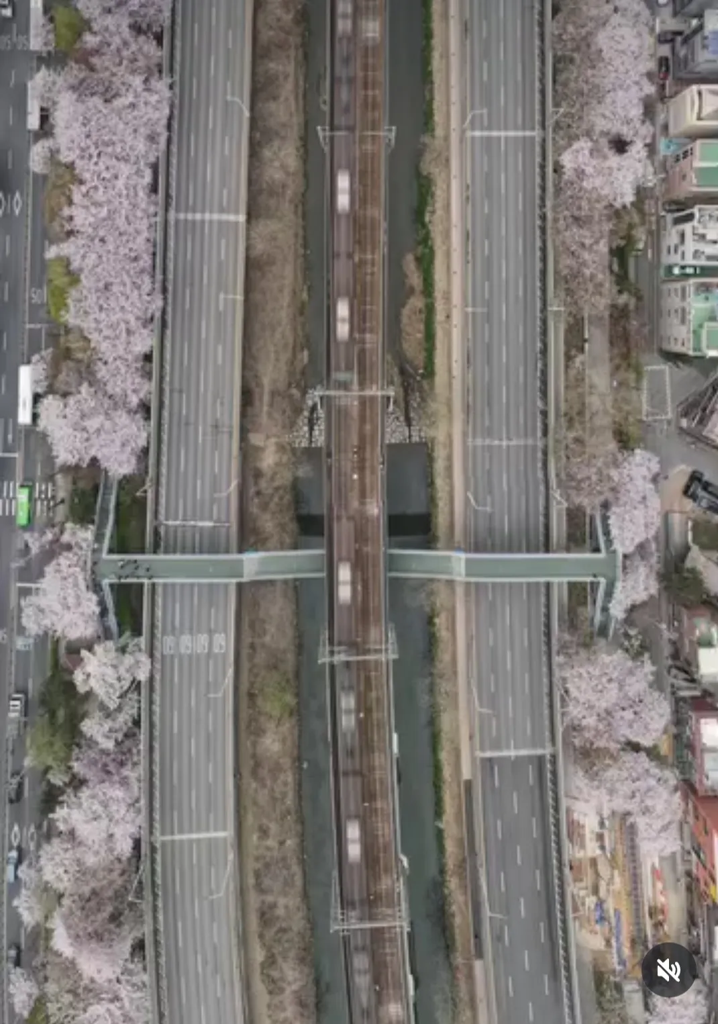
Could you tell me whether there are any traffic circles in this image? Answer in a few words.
No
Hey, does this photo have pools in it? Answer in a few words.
No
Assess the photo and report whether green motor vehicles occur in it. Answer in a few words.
Yes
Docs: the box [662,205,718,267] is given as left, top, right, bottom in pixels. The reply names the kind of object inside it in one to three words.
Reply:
house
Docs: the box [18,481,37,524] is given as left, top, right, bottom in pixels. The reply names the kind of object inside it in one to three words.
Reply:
vehicle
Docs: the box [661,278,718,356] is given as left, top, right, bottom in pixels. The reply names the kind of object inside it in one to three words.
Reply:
house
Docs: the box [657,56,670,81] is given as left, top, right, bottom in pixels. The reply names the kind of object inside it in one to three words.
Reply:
vehicle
